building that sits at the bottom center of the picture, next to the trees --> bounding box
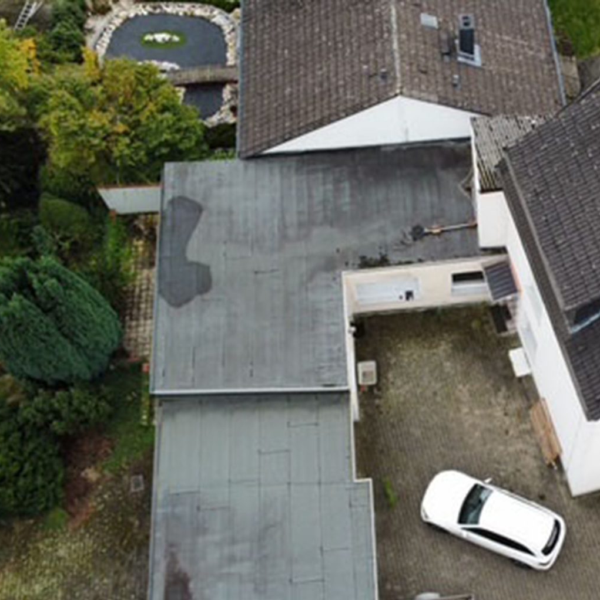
[146,392,382,600]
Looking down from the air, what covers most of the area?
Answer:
buildings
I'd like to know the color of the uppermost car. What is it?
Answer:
white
